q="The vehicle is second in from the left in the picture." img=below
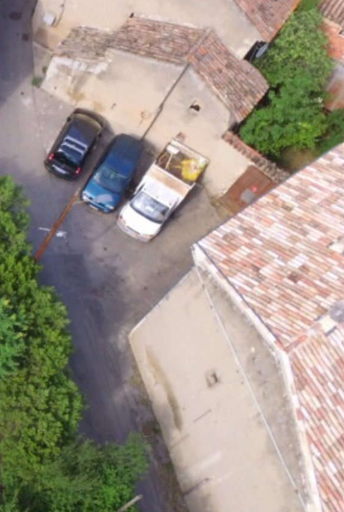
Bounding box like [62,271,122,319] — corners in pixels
[82,127,151,215]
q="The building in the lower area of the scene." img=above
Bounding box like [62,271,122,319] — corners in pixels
[128,142,344,512]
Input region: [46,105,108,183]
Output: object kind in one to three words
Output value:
car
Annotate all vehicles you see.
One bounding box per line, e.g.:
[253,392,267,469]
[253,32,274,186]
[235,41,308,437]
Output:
[46,105,108,183]
[82,127,151,215]
[126,139,206,243]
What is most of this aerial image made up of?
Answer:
buildings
